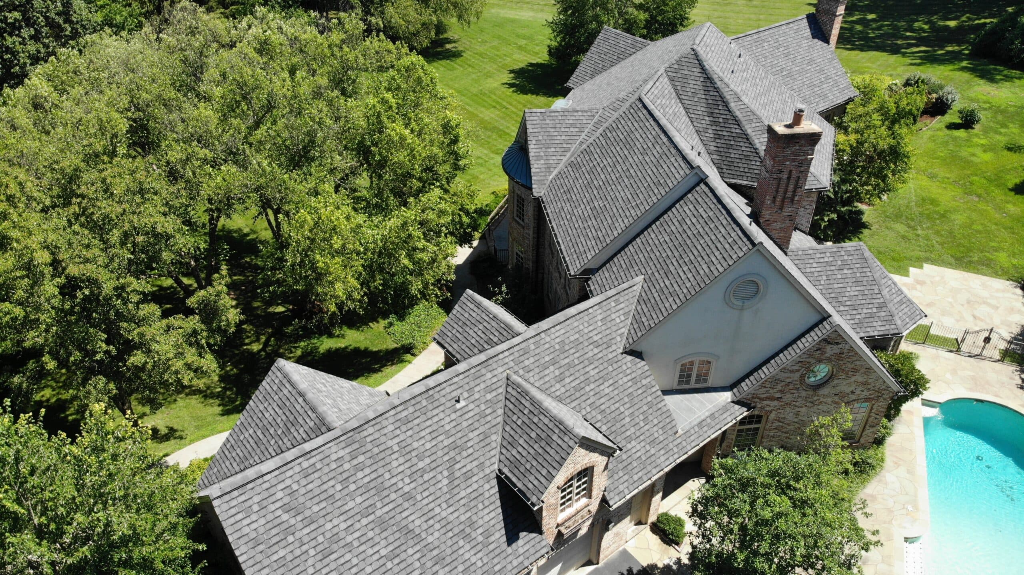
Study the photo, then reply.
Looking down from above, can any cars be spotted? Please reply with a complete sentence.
No, there isn't any car down there.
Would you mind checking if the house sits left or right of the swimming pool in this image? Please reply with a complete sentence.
To the left of the swimming pool is where the house appears.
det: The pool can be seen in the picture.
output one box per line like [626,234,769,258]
[893,392,1024,575]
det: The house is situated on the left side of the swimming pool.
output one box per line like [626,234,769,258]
[191,0,928,575]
